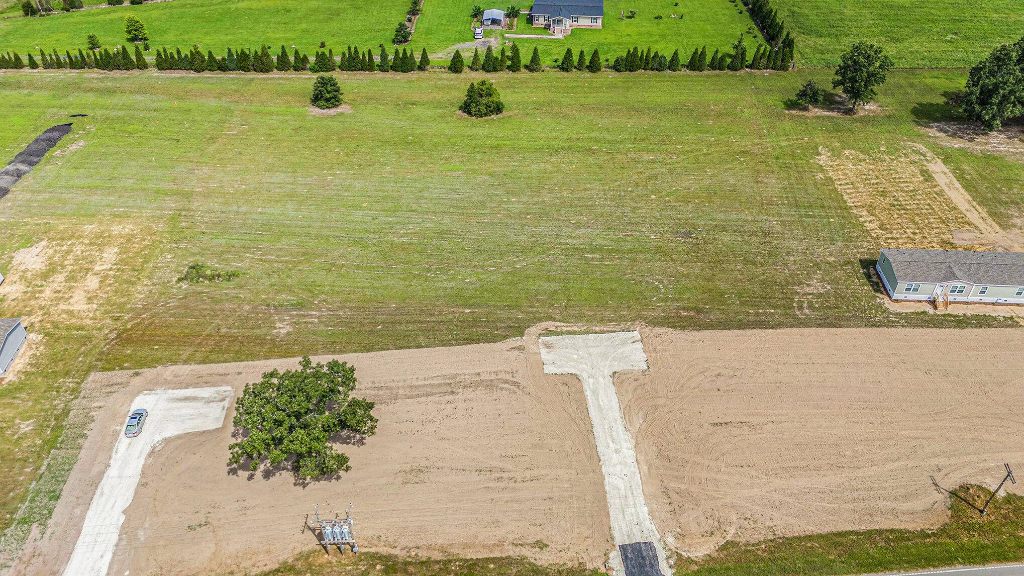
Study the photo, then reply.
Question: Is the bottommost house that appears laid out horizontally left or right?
right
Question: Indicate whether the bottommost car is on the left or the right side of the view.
left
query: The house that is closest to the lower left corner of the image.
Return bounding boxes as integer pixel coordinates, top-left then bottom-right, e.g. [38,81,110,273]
[0,315,30,375]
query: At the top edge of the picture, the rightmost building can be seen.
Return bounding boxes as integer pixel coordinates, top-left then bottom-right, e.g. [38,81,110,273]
[532,1,604,32]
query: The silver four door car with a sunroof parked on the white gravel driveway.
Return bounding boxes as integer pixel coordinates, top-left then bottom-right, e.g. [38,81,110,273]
[123,405,150,437]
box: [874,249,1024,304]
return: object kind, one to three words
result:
house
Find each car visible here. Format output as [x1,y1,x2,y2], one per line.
[485,19,492,26]
[123,405,150,437]
[474,29,482,37]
